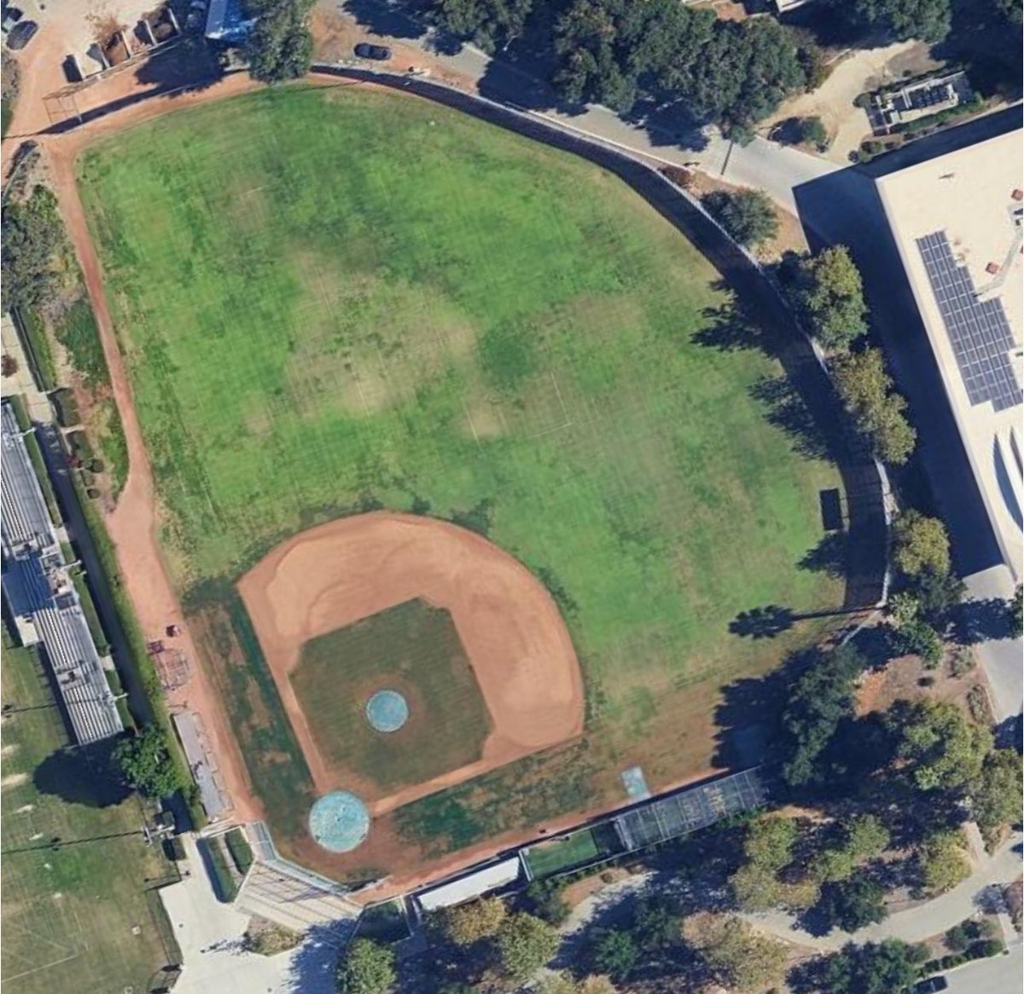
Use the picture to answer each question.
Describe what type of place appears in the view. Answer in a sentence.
This looks like a sports ground.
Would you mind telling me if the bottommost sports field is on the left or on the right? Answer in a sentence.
It is on the left.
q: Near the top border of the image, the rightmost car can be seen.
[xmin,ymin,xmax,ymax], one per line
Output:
[356,42,391,59]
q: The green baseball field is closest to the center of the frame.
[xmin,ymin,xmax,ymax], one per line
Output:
[43,67,888,906]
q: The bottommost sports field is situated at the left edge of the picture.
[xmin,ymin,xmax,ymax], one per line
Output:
[0,591,181,994]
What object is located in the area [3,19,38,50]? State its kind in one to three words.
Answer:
car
